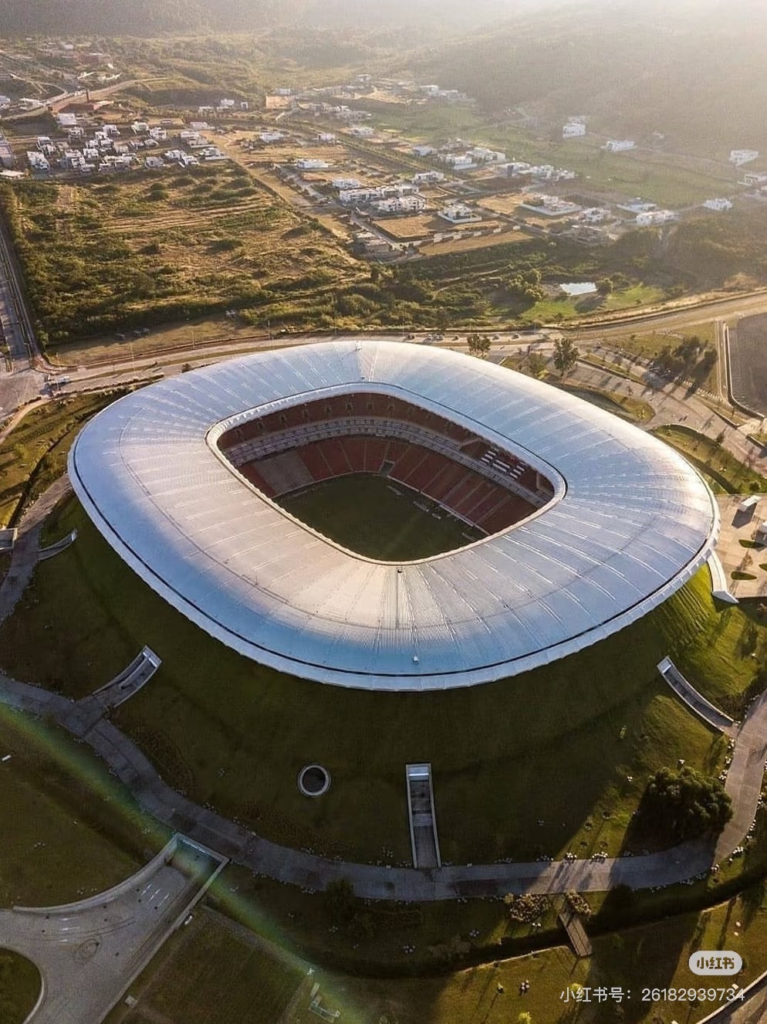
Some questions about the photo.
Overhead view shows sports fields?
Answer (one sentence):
Yes, you can see a sports field in this photo.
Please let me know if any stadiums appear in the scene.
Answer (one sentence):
Yes, the picture does show a stadium.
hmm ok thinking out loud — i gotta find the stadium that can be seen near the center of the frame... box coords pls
[64,338,729,693]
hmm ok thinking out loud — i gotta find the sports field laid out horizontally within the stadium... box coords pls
[272,472,489,560]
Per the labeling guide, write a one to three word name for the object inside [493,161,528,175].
house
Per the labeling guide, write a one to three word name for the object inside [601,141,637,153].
house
